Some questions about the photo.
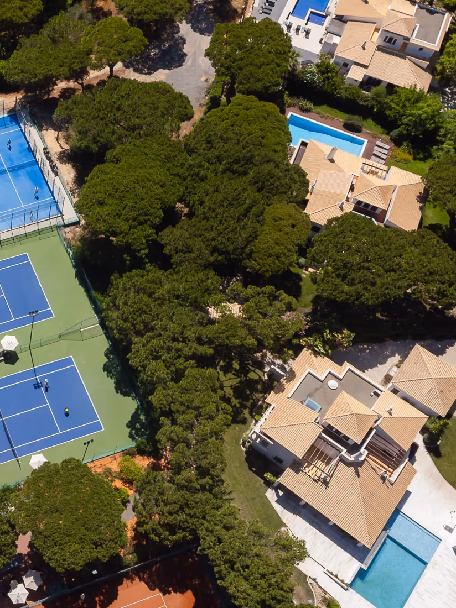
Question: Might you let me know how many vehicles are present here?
0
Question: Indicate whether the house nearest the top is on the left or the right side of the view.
right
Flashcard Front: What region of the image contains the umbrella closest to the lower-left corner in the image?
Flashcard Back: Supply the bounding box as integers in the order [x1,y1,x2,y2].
[8,583,28,606]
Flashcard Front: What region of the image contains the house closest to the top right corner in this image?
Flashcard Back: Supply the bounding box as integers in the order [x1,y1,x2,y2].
[319,0,453,86]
